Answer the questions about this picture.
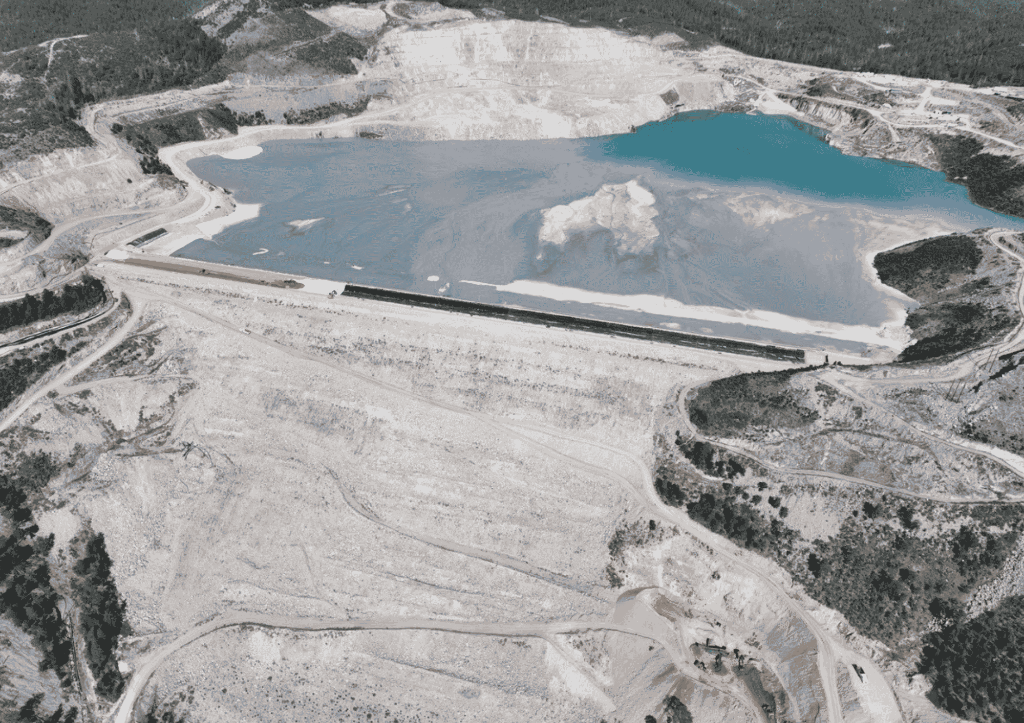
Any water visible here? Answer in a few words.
Yes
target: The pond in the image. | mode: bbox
[162,111,1024,357]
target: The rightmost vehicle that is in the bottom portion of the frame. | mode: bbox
[854,662,869,683]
